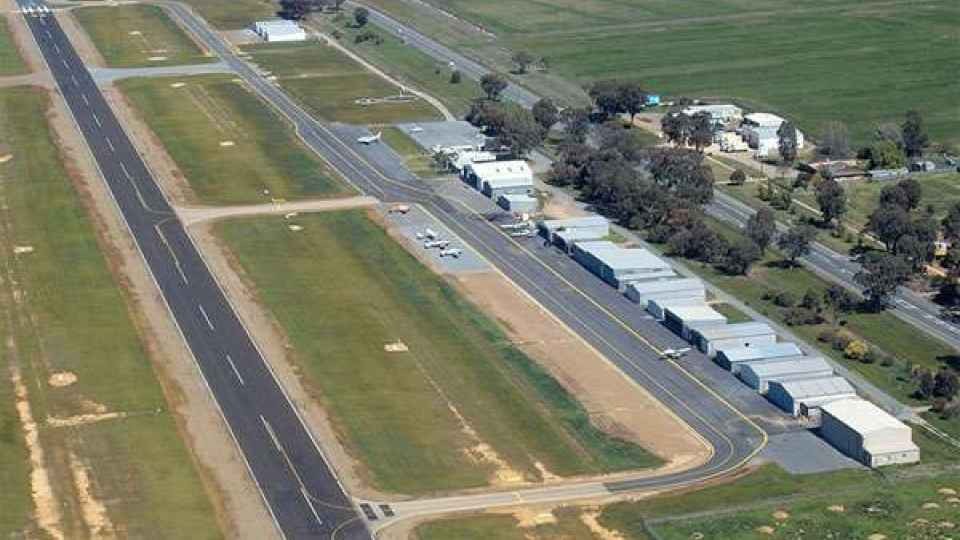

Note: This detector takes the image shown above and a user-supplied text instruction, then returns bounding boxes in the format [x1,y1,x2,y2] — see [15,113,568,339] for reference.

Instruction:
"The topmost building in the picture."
[250,17,310,45]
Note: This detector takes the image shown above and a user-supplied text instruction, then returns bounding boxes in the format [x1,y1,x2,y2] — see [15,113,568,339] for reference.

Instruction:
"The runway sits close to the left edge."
[8,16,373,540]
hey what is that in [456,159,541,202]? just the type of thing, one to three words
hangar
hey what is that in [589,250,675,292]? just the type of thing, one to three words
hangar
